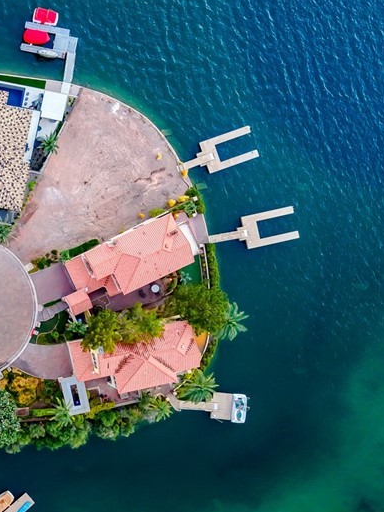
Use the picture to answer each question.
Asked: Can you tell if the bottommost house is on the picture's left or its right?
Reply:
left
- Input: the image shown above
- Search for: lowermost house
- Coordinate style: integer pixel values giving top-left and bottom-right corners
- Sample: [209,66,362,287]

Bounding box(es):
[65,321,202,393]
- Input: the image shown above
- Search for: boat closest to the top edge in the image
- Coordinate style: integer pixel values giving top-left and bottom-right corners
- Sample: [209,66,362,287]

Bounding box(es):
[31,3,59,26]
